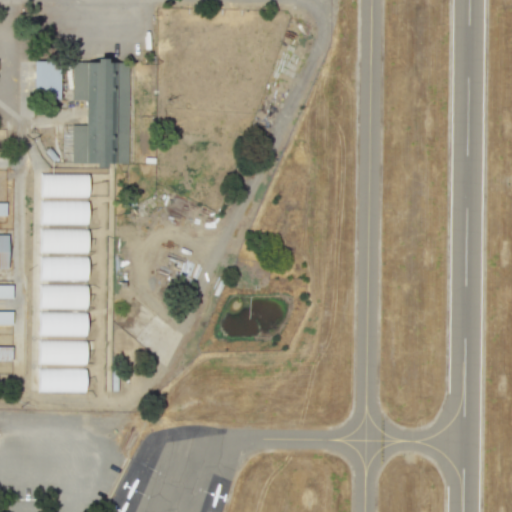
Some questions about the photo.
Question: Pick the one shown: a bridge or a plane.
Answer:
plane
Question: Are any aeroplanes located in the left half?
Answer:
Yes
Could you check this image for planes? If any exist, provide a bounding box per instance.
[112,501,130,512]
[121,479,140,502]
[212,484,229,508]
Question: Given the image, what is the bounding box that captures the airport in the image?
[110,0,490,512]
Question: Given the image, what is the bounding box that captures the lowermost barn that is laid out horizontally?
[38,369,93,394]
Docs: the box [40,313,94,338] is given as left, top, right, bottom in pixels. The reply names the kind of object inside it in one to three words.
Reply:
barn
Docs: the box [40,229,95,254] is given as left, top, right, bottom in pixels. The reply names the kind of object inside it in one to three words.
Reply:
barn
